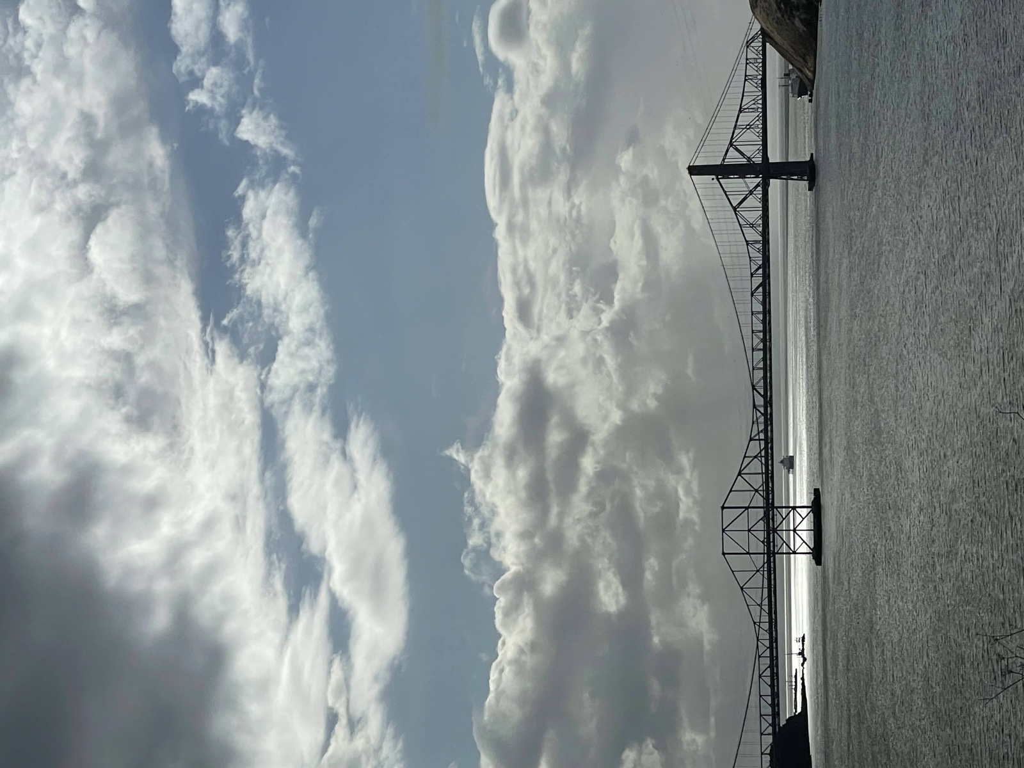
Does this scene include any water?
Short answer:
Yes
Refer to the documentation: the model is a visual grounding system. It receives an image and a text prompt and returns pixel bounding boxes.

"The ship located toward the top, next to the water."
[778,63,808,99]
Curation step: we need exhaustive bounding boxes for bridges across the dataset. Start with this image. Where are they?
[715,26,820,768]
